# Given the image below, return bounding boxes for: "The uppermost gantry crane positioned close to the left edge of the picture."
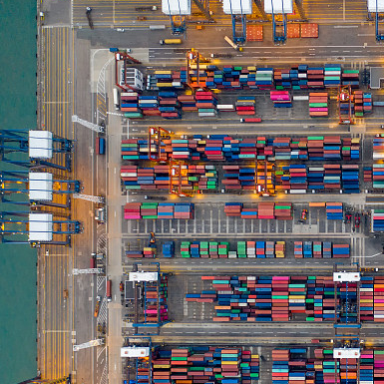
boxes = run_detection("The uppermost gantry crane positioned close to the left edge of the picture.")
[0,130,78,176]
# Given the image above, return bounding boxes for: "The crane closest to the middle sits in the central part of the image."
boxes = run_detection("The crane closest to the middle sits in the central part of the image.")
[166,155,192,197]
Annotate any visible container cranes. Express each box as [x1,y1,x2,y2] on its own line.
[332,263,363,336]
[166,155,192,197]
[0,130,78,176]
[363,0,384,34]
[225,0,272,34]
[184,47,209,92]
[252,155,275,197]
[0,172,78,212]
[332,340,363,384]
[336,80,354,124]
[0,213,78,251]
[148,122,175,164]
[265,0,308,34]
[119,340,165,384]
[130,263,175,336]
[163,0,217,34]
